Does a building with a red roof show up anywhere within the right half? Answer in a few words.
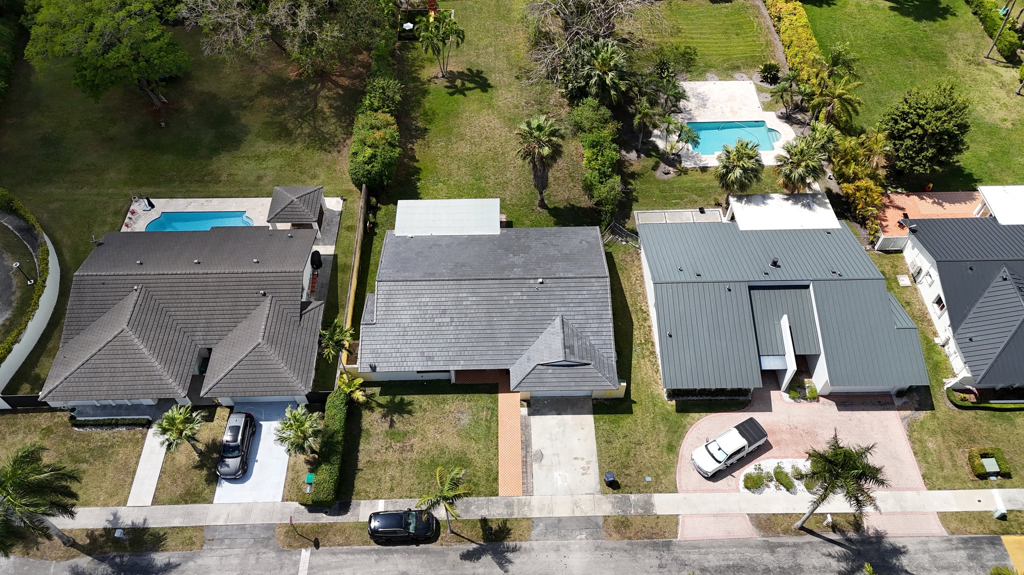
No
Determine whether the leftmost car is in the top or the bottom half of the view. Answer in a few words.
bottom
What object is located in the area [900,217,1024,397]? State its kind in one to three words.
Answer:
house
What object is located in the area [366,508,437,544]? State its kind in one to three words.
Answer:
car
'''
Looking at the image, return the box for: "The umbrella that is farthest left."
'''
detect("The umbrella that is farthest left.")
[130,188,154,210]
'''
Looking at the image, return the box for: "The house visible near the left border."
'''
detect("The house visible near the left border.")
[37,225,325,407]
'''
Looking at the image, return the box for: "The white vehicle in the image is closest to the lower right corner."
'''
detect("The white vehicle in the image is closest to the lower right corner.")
[696,417,768,475]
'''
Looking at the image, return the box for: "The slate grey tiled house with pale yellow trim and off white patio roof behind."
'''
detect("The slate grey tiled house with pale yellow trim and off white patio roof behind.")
[356,226,629,398]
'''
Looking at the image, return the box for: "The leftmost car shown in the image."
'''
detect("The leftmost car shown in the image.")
[215,411,257,479]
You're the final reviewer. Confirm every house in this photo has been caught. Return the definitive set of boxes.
[37,225,325,407]
[636,220,930,397]
[900,217,1024,397]
[356,226,629,398]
